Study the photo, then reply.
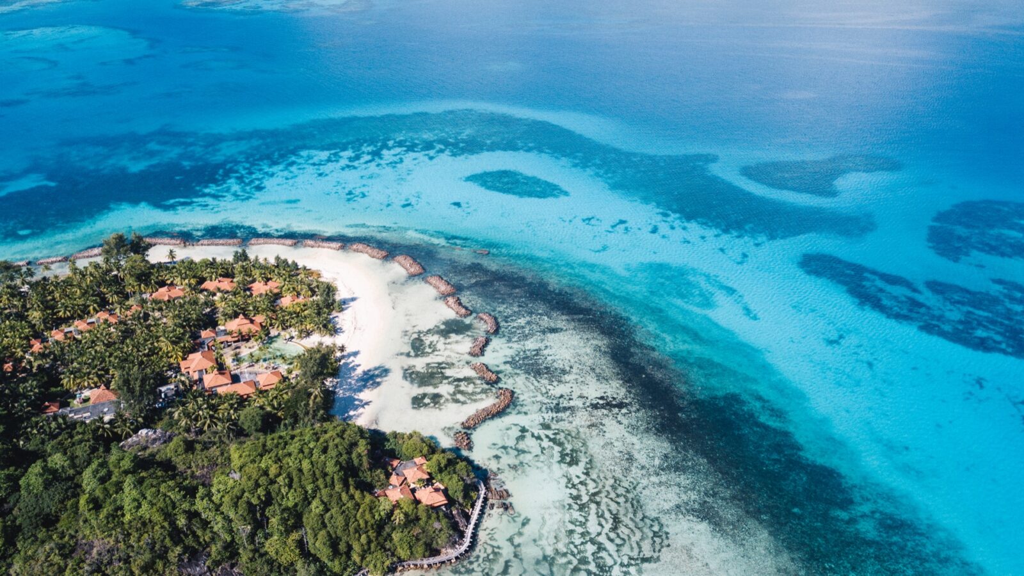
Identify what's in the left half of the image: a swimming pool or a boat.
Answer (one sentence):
There is a swimming pool in the left half of the image.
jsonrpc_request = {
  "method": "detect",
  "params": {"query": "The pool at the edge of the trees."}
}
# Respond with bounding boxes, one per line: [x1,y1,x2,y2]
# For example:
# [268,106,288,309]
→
[238,332,306,367]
